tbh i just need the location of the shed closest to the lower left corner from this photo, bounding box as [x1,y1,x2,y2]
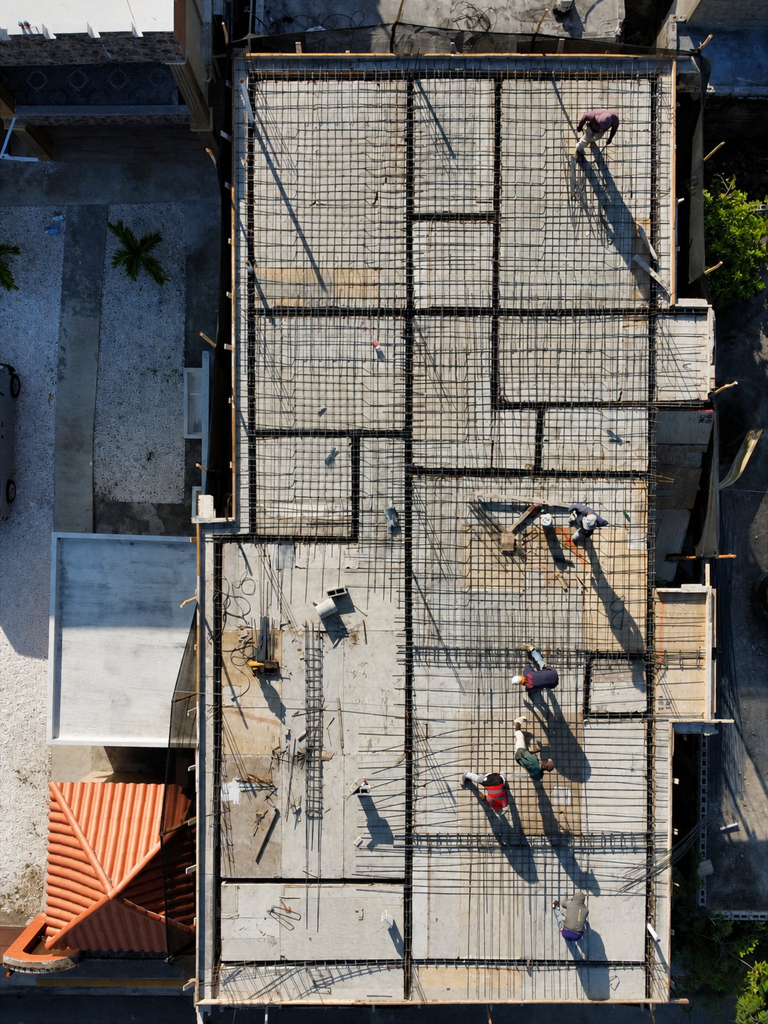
[44,768,167,958]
